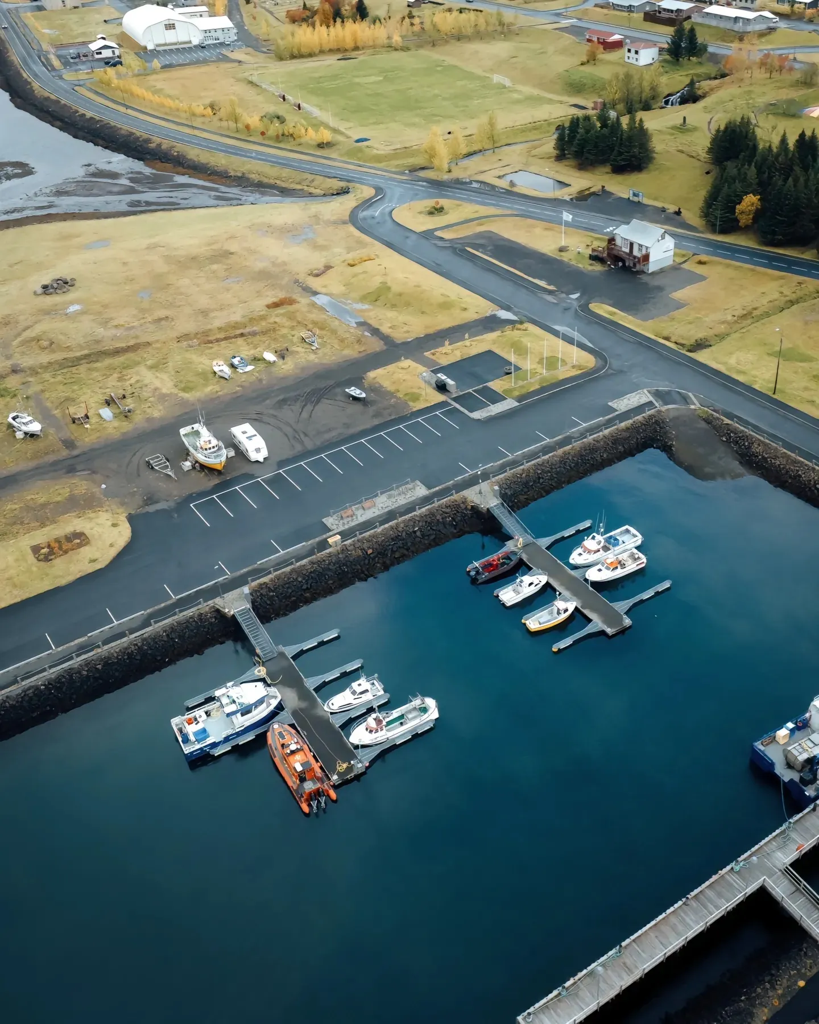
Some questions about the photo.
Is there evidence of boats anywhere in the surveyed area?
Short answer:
Yes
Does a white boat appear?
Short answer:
Yes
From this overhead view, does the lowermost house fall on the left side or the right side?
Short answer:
right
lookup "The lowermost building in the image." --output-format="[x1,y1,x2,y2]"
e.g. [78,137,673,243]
[576,216,681,276]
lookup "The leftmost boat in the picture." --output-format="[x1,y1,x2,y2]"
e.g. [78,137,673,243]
[5,411,41,436]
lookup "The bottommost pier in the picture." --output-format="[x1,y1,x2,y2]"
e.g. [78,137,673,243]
[516,795,819,1024]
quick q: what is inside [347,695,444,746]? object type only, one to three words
boat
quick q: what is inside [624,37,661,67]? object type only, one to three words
house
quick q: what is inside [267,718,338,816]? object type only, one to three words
boat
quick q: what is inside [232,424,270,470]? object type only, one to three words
camper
